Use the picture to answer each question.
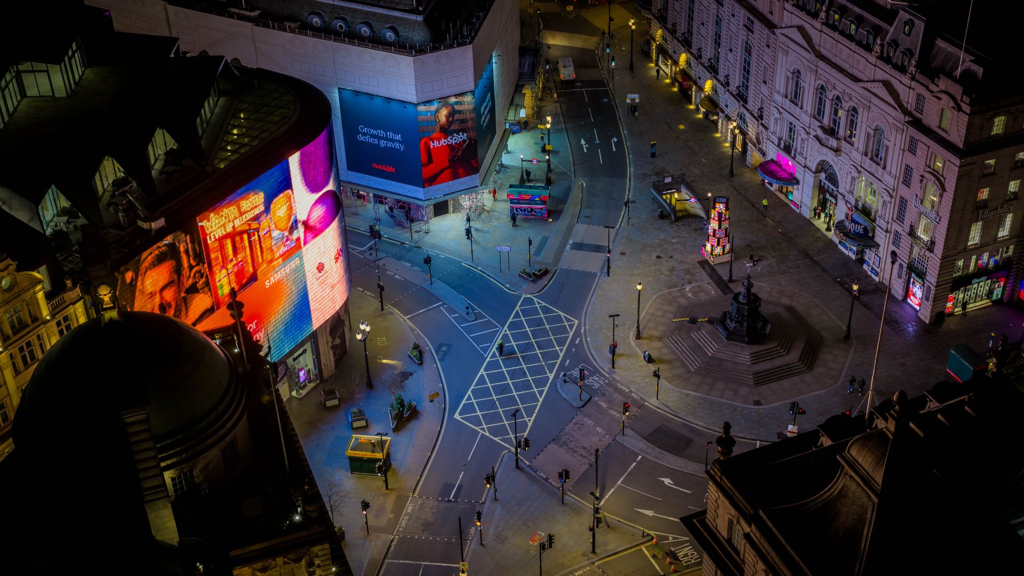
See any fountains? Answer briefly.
Yes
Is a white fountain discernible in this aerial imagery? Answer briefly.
No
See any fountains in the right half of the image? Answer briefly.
Yes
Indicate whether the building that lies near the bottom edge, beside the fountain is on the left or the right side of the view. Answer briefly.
right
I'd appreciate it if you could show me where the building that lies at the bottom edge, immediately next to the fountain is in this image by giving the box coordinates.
[678,348,1024,576]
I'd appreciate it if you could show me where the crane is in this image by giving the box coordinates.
[103,172,164,229]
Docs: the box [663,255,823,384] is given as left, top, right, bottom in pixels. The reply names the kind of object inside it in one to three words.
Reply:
fountain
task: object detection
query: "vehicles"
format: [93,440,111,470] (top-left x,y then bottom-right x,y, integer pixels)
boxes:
[559,53,574,77]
